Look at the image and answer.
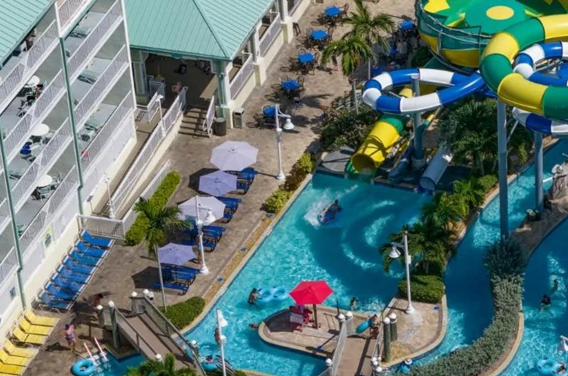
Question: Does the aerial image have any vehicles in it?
No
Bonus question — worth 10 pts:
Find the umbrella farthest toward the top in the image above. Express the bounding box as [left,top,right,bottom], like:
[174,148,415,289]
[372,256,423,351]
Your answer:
[208,146,263,178]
